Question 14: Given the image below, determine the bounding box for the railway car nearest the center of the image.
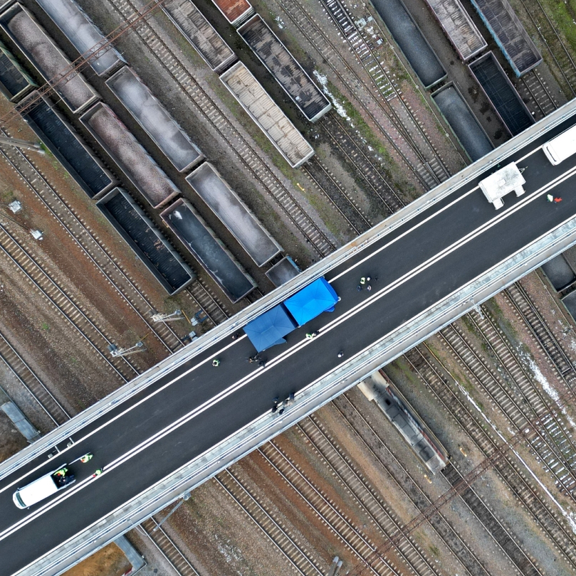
[266,256,304,288]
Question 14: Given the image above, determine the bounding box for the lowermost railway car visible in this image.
[356,369,454,476]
